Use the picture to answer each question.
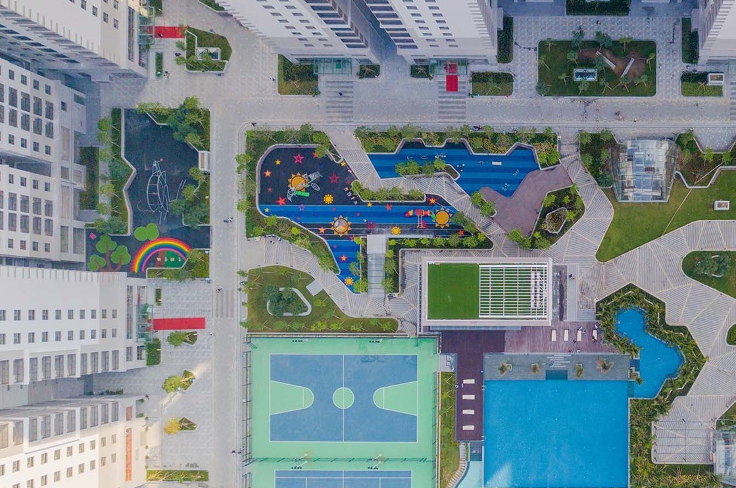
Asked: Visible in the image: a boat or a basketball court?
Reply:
basketball court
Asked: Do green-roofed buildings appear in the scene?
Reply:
Yes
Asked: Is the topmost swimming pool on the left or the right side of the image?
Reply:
right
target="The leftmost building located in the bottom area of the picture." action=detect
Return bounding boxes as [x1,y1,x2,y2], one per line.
[0,258,154,488]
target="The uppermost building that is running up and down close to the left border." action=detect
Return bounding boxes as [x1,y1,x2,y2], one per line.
[0,52,96,266]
